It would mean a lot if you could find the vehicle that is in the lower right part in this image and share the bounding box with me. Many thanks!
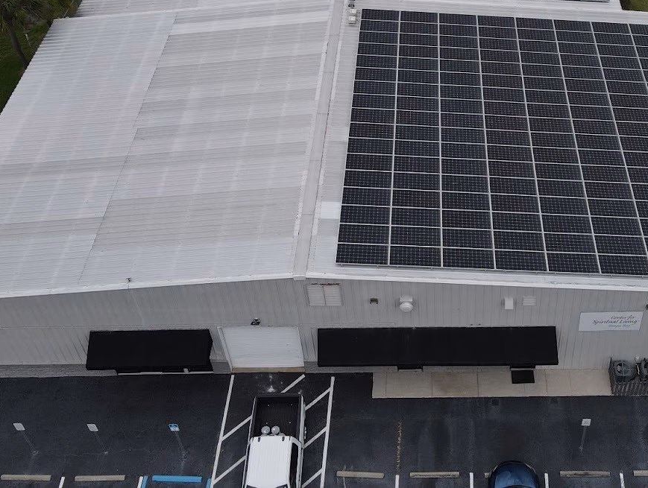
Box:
[486,461,544,488]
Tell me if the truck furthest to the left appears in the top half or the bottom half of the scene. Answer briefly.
bottom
